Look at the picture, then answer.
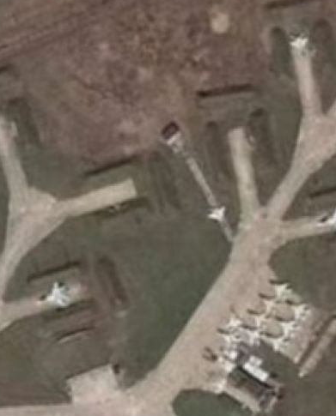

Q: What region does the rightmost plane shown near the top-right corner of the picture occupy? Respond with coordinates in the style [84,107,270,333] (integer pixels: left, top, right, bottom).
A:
[290,31,307,58]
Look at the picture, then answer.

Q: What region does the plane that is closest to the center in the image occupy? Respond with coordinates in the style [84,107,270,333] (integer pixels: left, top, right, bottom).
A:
[207,202,224,227]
